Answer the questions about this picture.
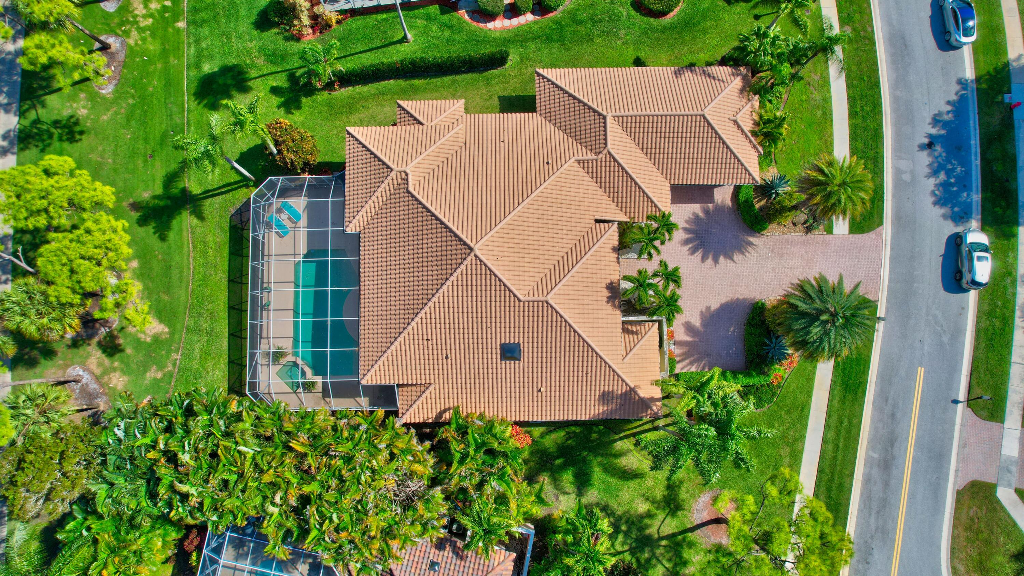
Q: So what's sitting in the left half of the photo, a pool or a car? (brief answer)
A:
pool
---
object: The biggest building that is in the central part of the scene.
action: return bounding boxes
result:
[343,66,764,424]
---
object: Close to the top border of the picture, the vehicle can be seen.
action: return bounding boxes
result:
[940,0,978,44]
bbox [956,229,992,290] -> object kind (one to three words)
car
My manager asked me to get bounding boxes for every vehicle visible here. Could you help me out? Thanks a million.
[956,229,992,290]
[940,0,978,44]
